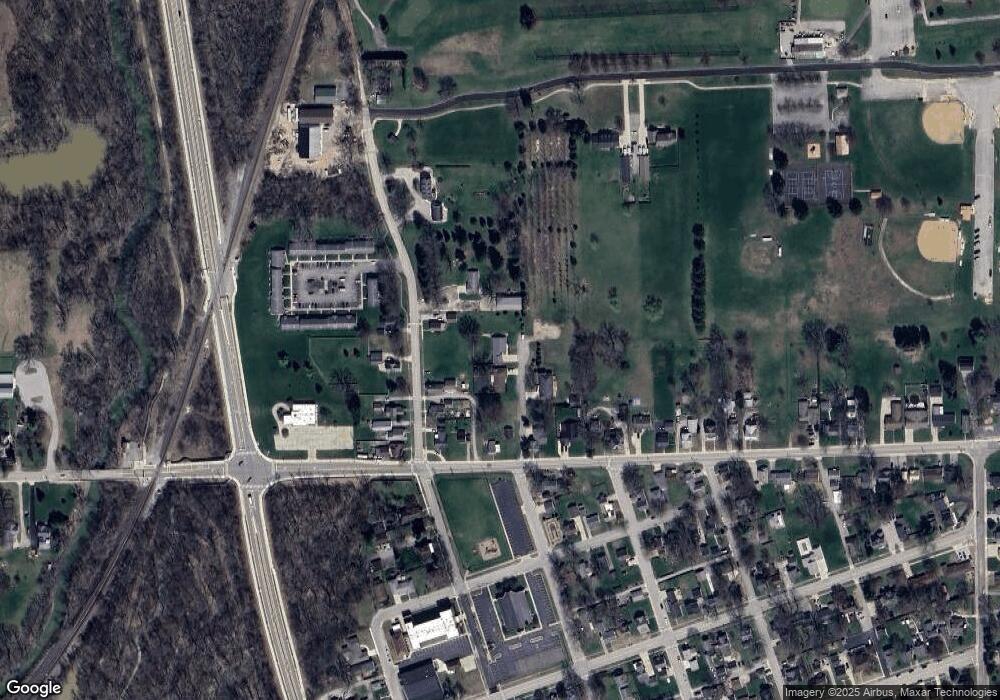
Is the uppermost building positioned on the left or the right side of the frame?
right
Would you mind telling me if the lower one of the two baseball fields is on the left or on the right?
right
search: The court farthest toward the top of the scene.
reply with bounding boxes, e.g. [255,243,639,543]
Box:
[783,164,853,207]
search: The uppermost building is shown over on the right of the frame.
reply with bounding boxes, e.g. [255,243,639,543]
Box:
[792,37,823,57]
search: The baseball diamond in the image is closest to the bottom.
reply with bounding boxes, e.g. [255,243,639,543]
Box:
[918,219,960,263]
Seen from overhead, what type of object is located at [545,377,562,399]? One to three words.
house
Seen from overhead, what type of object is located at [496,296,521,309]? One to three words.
barn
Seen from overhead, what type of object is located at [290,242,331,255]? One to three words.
building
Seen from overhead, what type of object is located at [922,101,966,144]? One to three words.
baseball field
